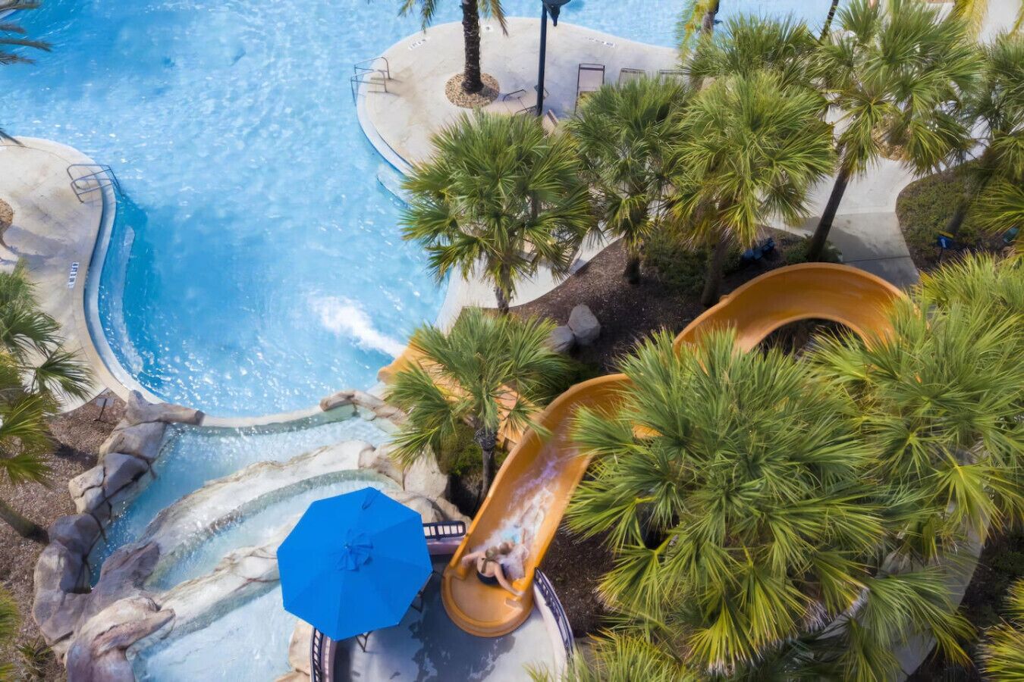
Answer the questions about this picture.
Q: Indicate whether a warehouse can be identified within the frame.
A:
No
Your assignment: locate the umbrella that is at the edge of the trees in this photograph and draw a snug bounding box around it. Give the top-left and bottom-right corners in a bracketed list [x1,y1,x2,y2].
[276,487,434,643]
